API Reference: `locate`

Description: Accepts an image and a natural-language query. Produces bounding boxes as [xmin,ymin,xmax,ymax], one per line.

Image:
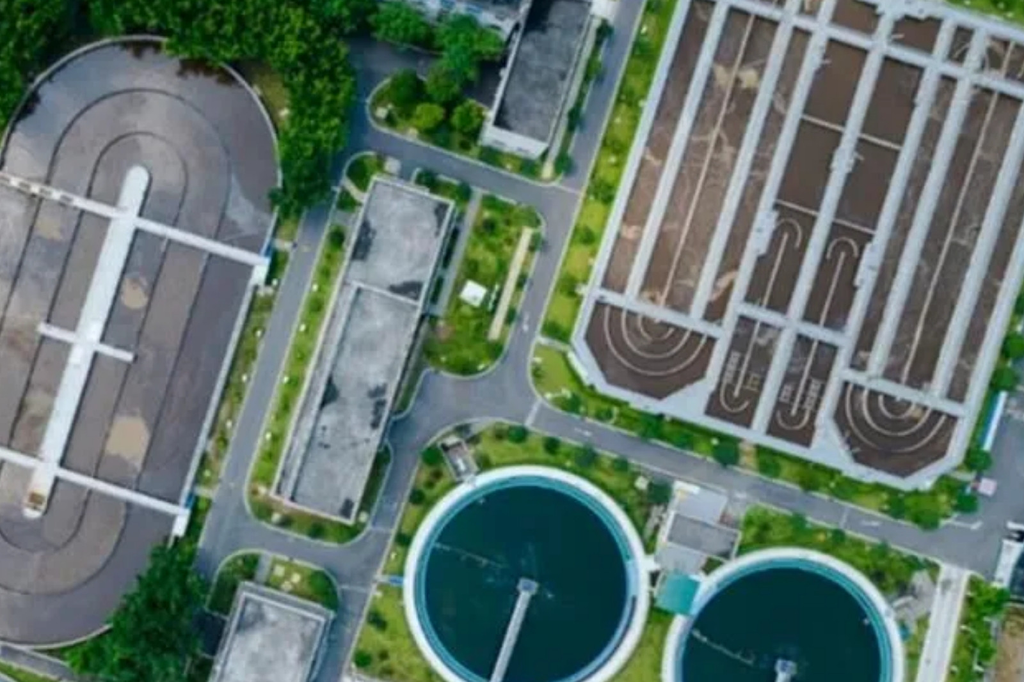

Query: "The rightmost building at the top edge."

[485,0,599,165]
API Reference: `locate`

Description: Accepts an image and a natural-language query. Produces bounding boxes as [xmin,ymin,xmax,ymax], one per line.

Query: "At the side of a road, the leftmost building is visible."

[210,582,335,682]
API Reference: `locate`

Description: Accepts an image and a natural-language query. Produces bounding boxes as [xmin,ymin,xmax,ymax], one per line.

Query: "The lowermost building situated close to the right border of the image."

[991,522,1024,602]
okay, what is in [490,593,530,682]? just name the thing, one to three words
bridge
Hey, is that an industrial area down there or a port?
industrial area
